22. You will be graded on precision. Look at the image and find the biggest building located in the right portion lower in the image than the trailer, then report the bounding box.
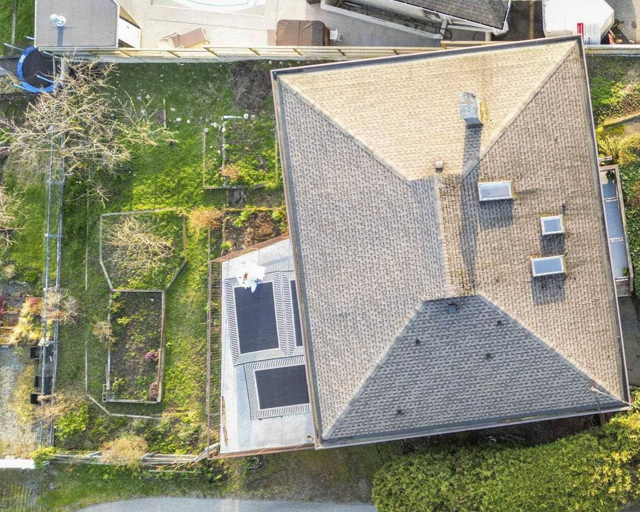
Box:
[271,36,632,447]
